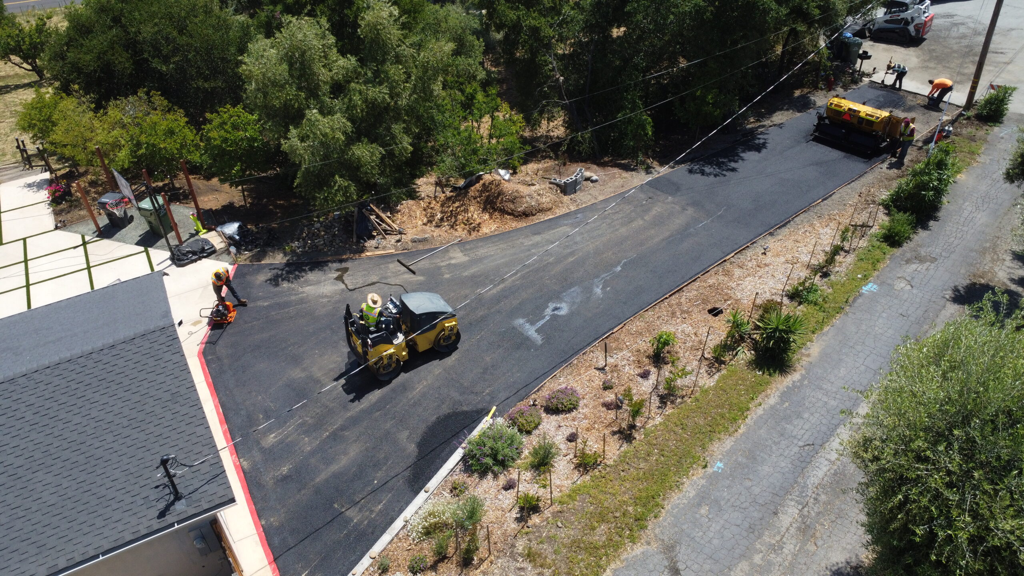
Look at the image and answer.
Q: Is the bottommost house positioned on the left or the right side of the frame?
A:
left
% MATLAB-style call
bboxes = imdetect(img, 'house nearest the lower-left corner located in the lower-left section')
[0,271,250,576]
